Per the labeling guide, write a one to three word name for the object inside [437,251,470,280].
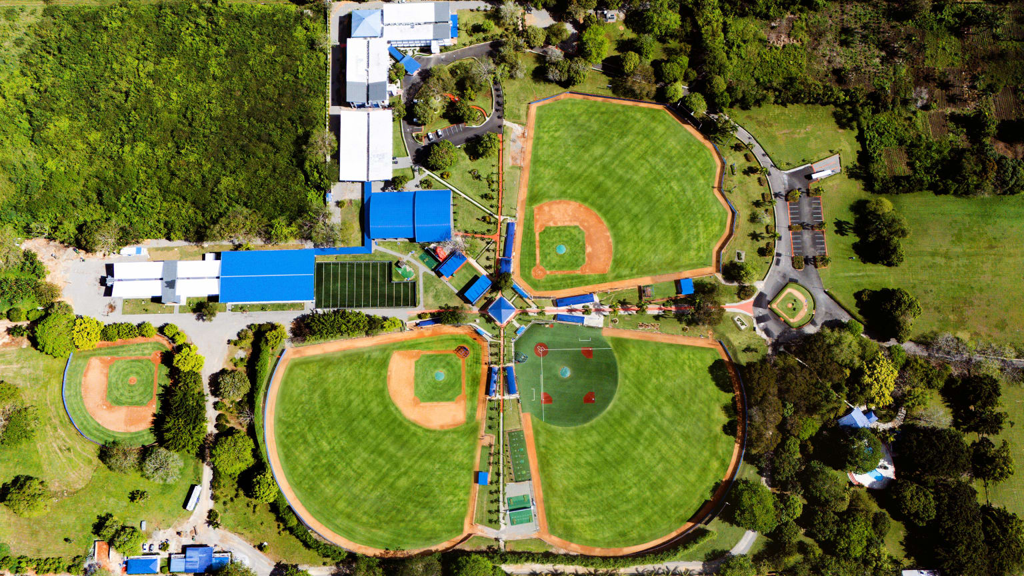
building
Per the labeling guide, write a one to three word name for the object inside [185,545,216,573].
house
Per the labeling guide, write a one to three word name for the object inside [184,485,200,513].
vehicle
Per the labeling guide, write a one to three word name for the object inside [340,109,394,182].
building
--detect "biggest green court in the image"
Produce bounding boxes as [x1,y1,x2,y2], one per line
[507,428,531,483]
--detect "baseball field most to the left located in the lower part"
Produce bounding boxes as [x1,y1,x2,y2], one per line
[63,333,175,449]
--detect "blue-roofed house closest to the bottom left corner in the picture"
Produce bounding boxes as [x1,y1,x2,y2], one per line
[127,559,158,574]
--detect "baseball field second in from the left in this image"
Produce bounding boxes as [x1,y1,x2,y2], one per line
[265,324,490,557]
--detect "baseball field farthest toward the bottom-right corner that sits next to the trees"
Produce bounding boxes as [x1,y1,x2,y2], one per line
[513,322,747,556]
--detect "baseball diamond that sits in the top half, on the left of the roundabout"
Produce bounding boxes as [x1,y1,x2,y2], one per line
[516,93,736,298]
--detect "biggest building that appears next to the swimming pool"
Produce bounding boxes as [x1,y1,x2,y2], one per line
[836,408,869,432]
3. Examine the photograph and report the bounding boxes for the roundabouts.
[767,282,816,329]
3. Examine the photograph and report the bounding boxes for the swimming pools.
[847,434,896,489]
